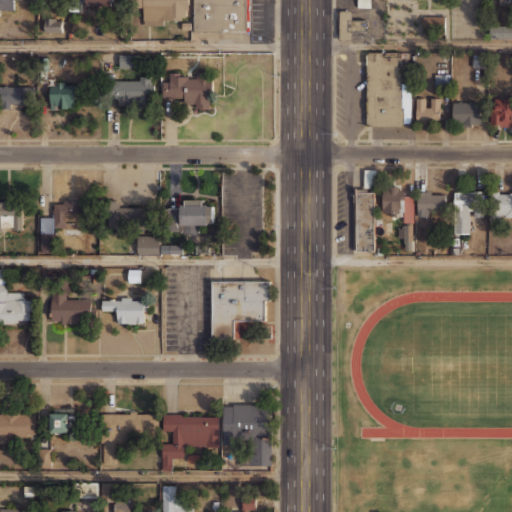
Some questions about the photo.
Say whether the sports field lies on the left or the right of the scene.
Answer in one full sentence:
The sports field appears in the right half of the scene.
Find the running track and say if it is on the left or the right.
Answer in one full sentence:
The running track sits on the right side.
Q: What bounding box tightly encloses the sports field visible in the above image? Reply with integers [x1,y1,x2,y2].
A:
[414,315,512,415]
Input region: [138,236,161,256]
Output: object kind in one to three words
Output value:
building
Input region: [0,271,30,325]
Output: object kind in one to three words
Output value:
house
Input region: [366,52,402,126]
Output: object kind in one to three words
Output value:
building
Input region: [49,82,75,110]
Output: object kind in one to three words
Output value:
house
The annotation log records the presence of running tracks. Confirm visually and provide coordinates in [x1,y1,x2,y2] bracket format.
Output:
[352,292,512,442]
